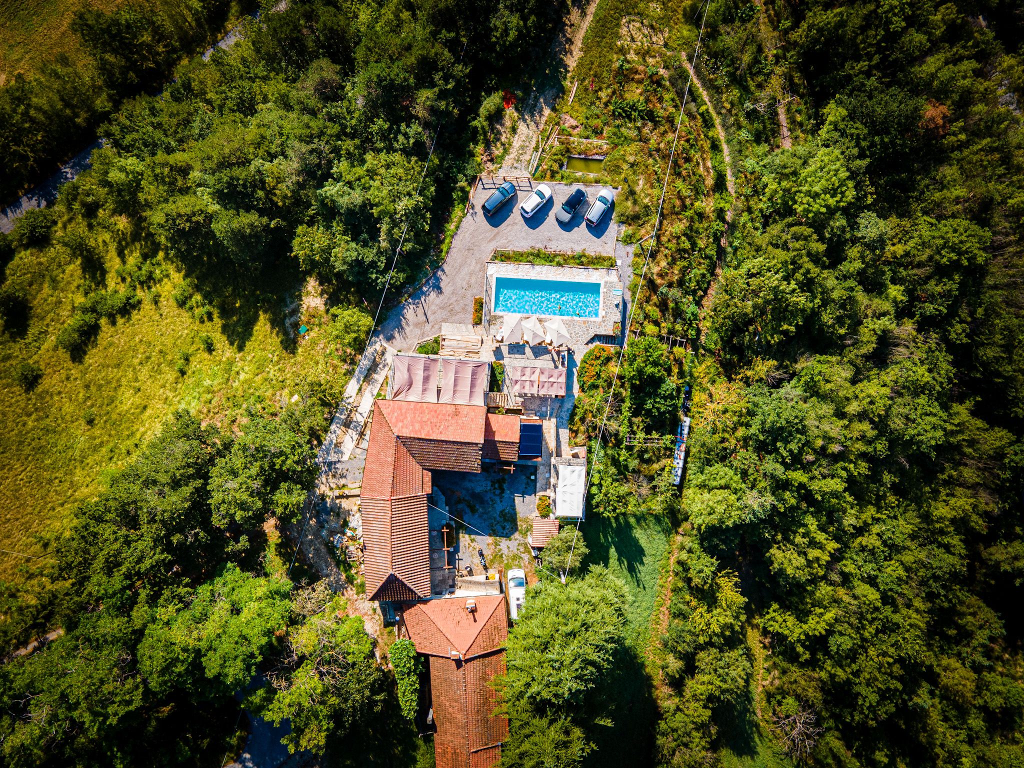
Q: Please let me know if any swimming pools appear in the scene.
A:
Yes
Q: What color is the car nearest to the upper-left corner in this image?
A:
blue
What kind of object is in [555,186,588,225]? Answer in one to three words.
car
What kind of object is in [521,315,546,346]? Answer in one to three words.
umbrella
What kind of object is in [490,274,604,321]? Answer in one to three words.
swimming pool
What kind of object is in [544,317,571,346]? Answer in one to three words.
umbrella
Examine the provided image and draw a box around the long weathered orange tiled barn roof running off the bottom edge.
[428,650,507,768]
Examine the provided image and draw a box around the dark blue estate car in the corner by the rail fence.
[481,181,516,218]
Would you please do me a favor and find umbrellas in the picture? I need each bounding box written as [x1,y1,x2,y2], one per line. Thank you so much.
[544,317,571,346]
[504,316,522,343]
[521,315,546,346]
